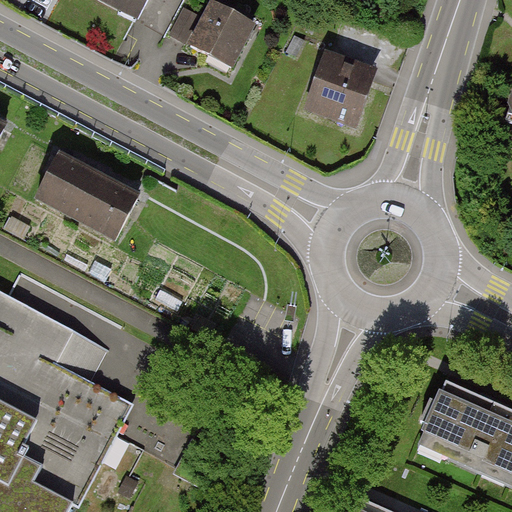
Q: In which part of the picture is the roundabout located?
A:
right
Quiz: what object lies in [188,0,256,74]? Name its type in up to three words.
house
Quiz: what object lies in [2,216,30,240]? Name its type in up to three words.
shed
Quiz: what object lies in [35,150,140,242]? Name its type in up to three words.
building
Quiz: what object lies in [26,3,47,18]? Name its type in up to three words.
car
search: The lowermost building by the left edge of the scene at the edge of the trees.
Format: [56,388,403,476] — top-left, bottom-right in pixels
[0,290,133,512]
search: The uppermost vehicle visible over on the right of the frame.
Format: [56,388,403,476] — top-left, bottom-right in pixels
[382,203,404,217]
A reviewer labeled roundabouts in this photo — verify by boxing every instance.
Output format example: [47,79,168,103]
[310,183,460,331]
